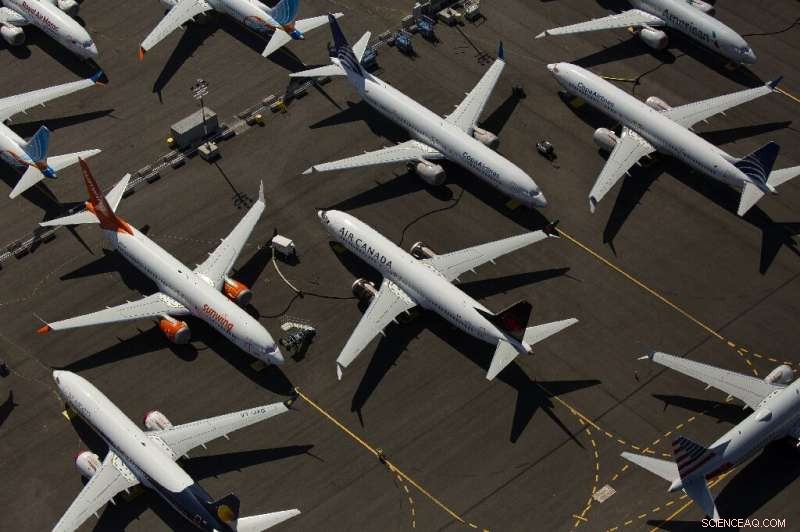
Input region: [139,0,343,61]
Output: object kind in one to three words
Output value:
airplane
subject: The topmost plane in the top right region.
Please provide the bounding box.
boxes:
[534,0,758,66]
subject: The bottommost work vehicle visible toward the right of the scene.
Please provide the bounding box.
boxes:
[533,137,553,157]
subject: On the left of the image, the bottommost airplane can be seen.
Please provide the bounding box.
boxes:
[50,370,302,532]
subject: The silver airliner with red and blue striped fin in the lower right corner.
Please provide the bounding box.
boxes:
[621,342,800,523]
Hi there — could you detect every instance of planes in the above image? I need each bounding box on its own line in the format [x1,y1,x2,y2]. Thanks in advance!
[621,342,800,523]
[291,13,548,209]
[0,67,107,199]
[50,370,302,532]
[0,0,100,61]
[319,209,578,380]
[546,62,800,216]
[534,0,758,66]
[35,157,285,363]
[139,0,343,61]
